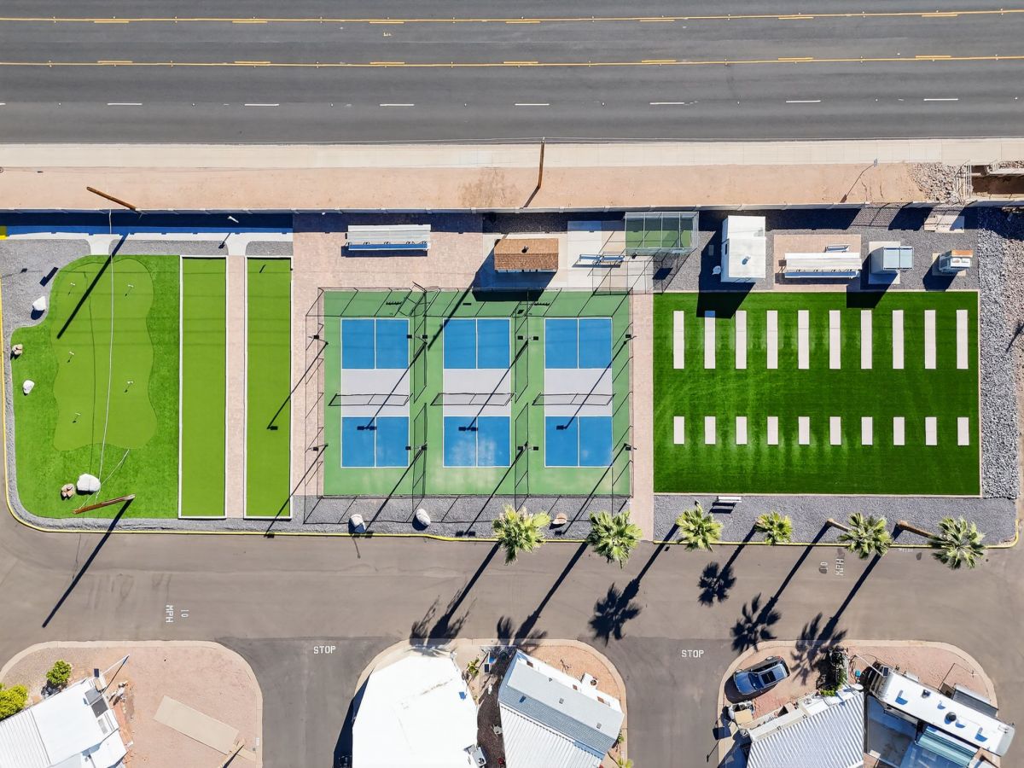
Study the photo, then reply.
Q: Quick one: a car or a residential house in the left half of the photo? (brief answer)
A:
residential house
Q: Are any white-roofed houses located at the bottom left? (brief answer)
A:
Yes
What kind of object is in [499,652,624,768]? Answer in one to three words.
house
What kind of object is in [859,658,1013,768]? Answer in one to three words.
camper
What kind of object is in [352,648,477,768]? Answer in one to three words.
house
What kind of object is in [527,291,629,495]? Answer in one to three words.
sports court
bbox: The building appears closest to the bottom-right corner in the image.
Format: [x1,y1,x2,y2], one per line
[739,676,866,768]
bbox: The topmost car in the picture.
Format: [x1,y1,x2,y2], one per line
[734,656,789,693]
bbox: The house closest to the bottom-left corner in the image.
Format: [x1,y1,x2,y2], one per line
[0,669,136,768]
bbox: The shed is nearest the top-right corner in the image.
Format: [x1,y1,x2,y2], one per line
[869,246,914,273]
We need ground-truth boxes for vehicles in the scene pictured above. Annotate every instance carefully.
[725,699,753,725]
[859,658,1013,768]
[734,656,789,693]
